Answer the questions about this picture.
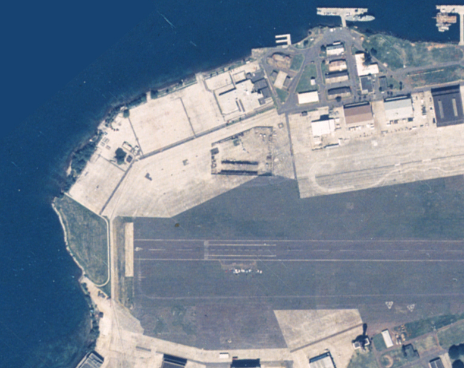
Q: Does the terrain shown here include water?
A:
Yes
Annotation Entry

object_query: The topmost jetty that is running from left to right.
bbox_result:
[316,8,368,27]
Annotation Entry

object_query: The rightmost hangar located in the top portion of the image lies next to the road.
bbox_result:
[432,87,464,127]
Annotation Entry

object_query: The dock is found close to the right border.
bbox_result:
[435,5,464,45]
